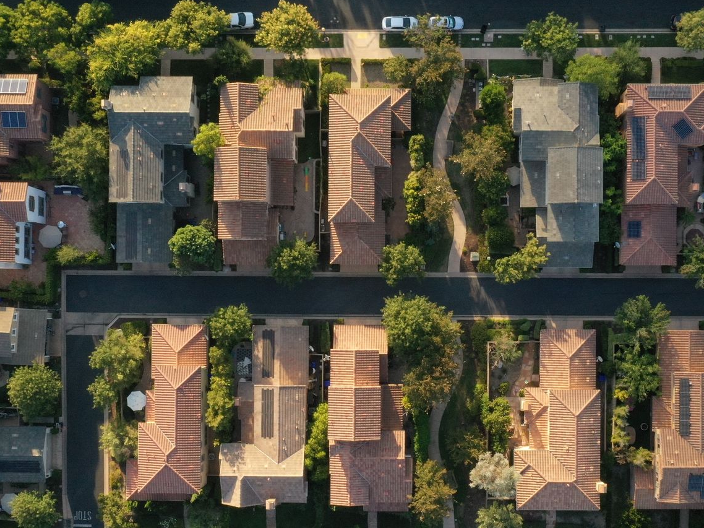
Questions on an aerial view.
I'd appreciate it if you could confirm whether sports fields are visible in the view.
No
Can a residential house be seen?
Yes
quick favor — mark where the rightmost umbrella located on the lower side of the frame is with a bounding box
[128,390,145,410]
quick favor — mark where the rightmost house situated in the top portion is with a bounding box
[605,82,704,267]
